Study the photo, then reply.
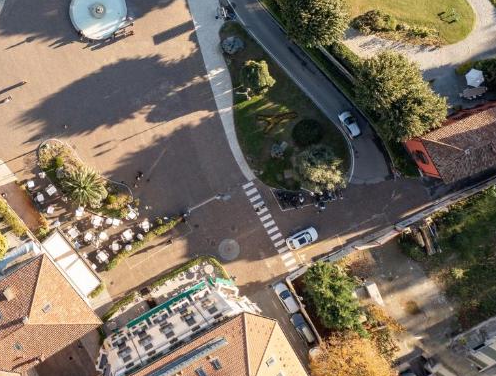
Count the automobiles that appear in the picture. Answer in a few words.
4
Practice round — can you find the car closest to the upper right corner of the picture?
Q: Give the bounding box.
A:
[334,107,363,142]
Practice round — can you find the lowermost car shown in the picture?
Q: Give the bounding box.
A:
[288,312,318,348]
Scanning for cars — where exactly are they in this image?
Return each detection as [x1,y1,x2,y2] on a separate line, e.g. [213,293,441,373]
[288,312,318,348]
[283,225,320,251]
[271,280,298,315]
[334,107,363,142]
